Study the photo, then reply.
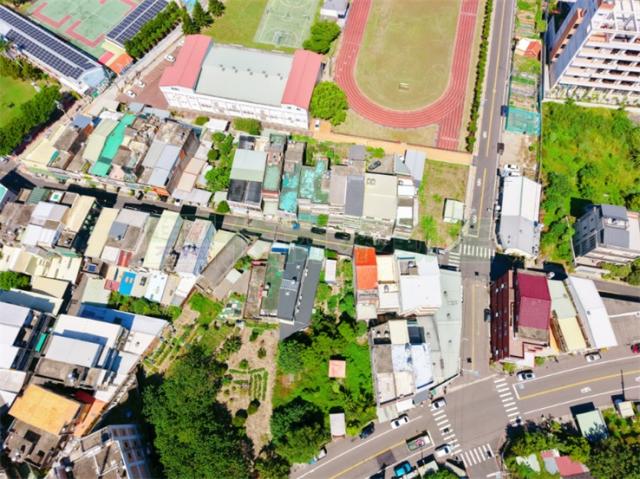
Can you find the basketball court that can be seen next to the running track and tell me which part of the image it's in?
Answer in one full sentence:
You can find the basketball court that can be seen next to the running track in the top area of the picture.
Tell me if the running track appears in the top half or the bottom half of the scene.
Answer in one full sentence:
The top half of the photo is where the running track is.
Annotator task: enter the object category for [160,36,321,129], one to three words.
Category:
building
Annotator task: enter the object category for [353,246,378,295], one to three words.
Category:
house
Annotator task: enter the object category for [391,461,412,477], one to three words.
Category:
car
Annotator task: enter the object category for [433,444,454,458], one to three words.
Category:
vehicle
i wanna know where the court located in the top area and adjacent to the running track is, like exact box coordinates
[253,0,315,48]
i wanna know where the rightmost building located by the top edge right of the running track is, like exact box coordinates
[542,0,640,104]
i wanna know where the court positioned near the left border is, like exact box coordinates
[24,0,130,64]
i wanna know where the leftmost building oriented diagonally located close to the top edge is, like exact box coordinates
[0,0,104,91]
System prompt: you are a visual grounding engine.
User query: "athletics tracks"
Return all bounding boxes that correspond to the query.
[337,0,478,148]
